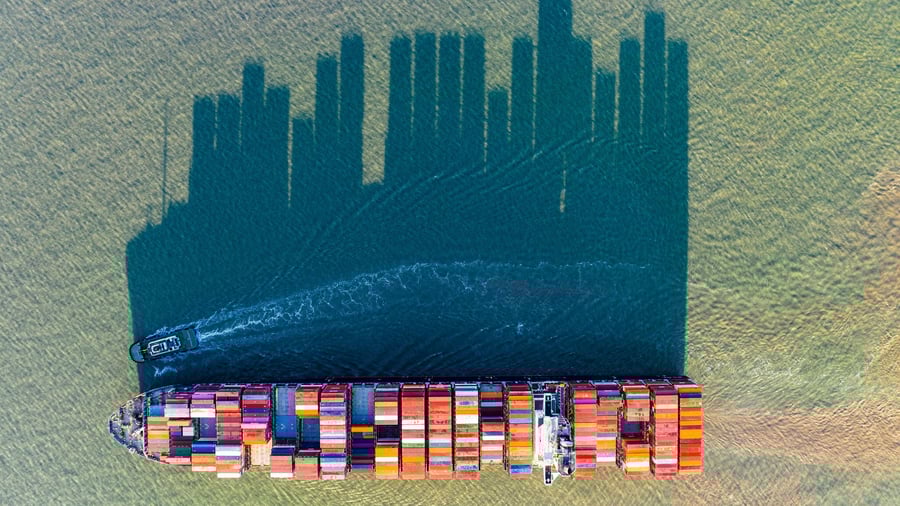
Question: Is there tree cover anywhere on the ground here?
No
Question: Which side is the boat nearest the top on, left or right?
left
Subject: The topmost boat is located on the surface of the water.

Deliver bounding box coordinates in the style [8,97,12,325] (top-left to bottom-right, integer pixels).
[129,326,200,360]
